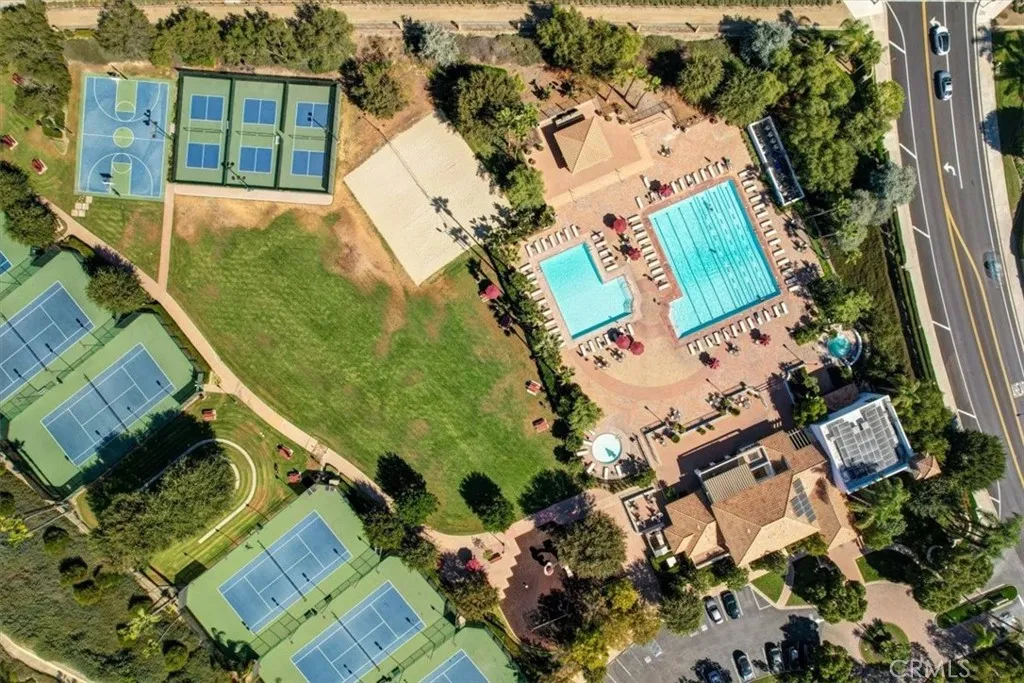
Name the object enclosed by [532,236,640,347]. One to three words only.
swimming pool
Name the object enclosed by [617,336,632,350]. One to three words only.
umbrella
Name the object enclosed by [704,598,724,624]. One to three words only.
car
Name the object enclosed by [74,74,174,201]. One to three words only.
basketball court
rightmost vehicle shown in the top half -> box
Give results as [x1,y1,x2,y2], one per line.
[987,252,1004,279]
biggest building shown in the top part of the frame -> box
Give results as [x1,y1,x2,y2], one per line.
[554,116,613,173]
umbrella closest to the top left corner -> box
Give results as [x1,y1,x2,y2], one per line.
[482,283,498,299]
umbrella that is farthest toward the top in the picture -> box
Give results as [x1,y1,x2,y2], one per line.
[661,182,676,196]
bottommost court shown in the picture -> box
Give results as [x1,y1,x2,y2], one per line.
[389,623,521,683]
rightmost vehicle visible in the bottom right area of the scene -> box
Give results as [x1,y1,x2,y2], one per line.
[995,612,1024,632]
